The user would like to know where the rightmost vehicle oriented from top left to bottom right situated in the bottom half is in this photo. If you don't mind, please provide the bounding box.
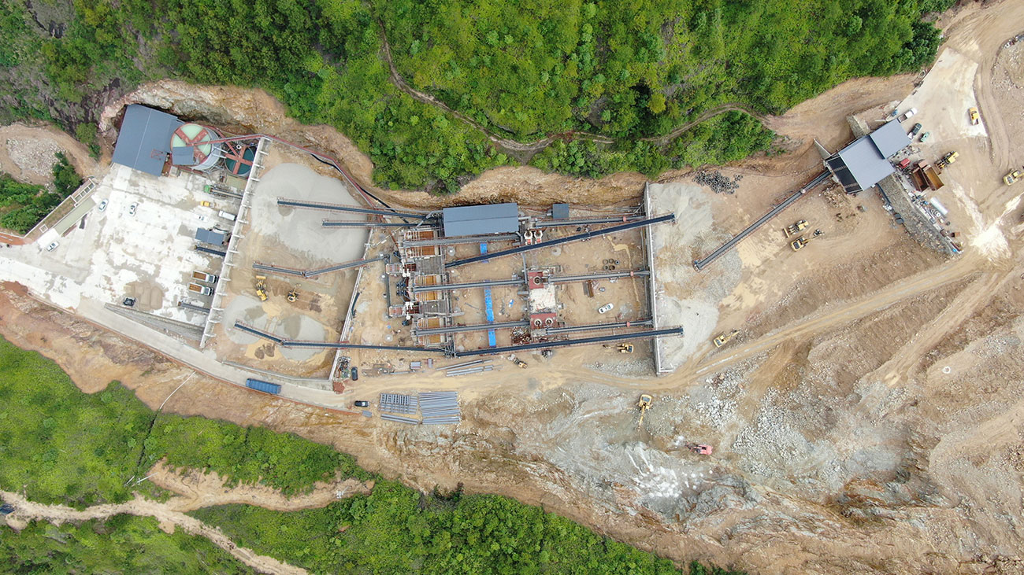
[507,354,526,369]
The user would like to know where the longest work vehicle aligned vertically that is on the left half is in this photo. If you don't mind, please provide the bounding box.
[252,272,267,301]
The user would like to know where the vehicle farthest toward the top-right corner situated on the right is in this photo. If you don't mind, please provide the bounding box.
[969,106,982,124]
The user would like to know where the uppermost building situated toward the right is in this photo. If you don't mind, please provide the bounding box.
[822,118,911,194]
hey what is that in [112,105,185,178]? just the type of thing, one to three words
building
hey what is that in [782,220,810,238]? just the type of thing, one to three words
work vehicle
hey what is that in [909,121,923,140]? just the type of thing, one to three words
vehicle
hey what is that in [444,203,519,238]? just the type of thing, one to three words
house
